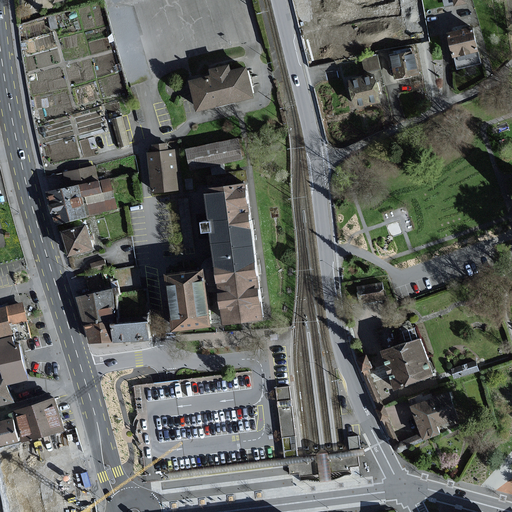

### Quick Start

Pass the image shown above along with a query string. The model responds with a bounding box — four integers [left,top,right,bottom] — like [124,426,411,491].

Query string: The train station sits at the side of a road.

[262,316,366,482]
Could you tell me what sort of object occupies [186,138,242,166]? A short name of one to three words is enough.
house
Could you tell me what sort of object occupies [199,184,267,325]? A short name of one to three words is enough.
building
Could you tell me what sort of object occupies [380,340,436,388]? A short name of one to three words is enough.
house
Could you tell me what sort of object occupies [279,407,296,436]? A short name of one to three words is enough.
building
